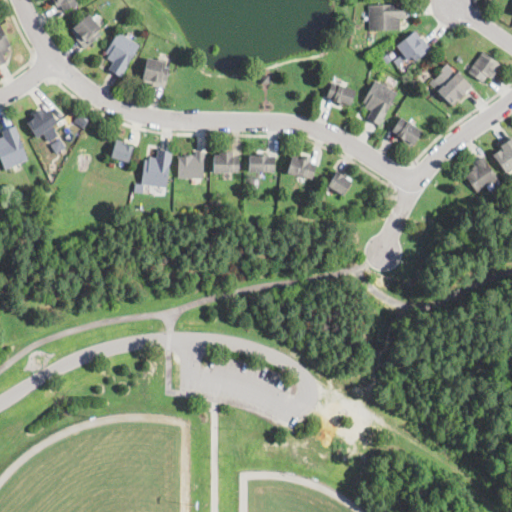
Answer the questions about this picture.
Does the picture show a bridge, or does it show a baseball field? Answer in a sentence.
The one in the frame is a baseball field.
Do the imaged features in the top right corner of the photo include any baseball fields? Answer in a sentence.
No, I see no baseball field in the top right corner of the photo.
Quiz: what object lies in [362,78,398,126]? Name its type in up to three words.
house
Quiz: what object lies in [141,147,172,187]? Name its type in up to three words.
house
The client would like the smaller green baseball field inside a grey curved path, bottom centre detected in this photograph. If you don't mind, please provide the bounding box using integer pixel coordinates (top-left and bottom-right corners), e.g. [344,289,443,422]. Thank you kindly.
[240,471,358,512]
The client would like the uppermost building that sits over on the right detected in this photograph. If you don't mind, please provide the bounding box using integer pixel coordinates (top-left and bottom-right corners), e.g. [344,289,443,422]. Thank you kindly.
[370,5,403,31]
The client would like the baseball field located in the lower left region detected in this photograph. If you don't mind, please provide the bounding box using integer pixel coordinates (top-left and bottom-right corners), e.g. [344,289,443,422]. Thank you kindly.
[0,414,190,512]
